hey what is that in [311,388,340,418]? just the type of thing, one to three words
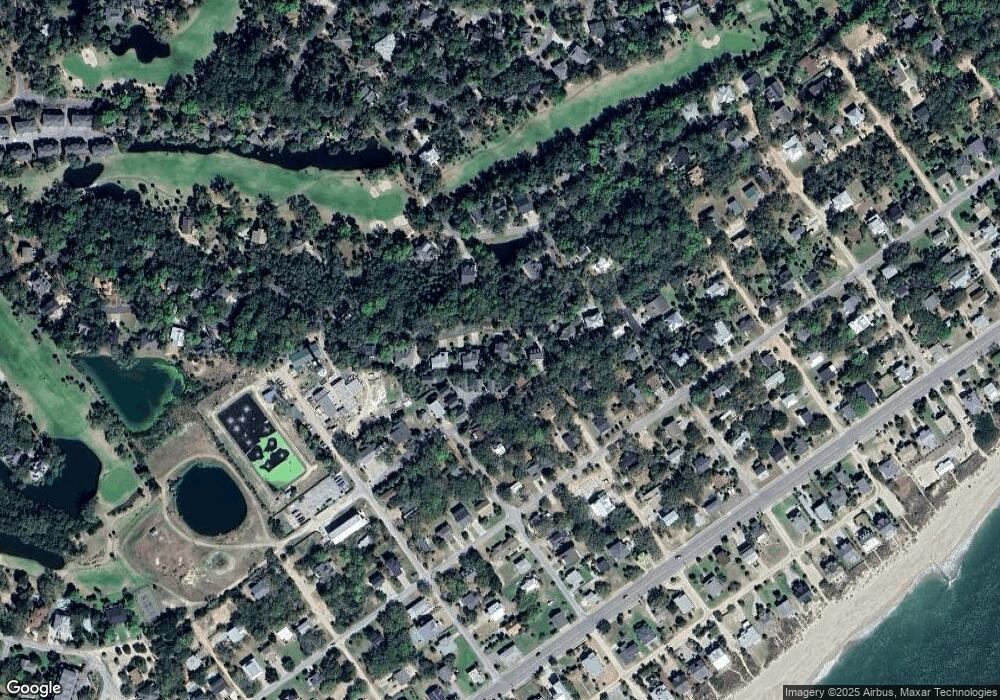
shed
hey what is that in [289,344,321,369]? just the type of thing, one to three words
building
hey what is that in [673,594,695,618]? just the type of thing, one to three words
house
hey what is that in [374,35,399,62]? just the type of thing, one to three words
house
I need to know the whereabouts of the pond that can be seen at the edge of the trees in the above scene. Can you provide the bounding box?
[219,393,305,490]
